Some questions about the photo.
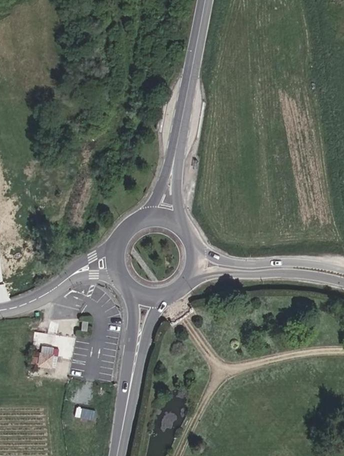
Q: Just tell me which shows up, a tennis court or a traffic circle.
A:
traffic circle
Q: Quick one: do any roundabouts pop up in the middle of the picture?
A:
Yes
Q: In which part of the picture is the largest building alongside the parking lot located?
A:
bottom left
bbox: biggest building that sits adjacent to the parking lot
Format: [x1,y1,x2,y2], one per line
[32,322,76,370]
